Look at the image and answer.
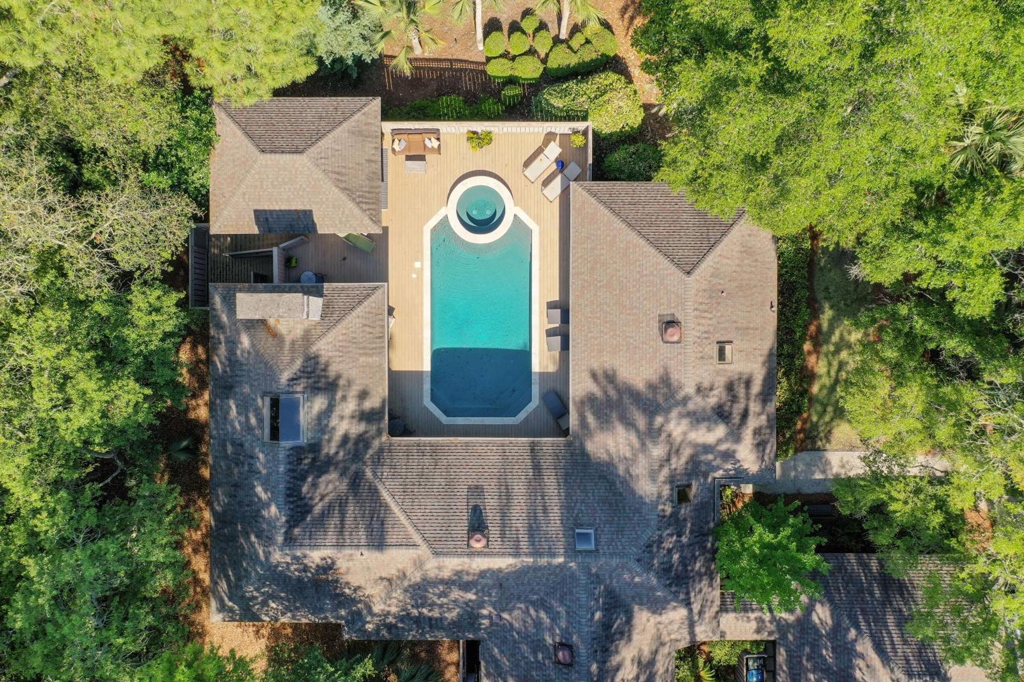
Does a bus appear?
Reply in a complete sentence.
No, the picture doesn't show any bus.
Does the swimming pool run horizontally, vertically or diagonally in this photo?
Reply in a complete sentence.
The swimming pool has been laid out vertically relative to the frame.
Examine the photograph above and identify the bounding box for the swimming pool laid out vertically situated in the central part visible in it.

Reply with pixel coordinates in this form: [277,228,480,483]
[424,176,539,424]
